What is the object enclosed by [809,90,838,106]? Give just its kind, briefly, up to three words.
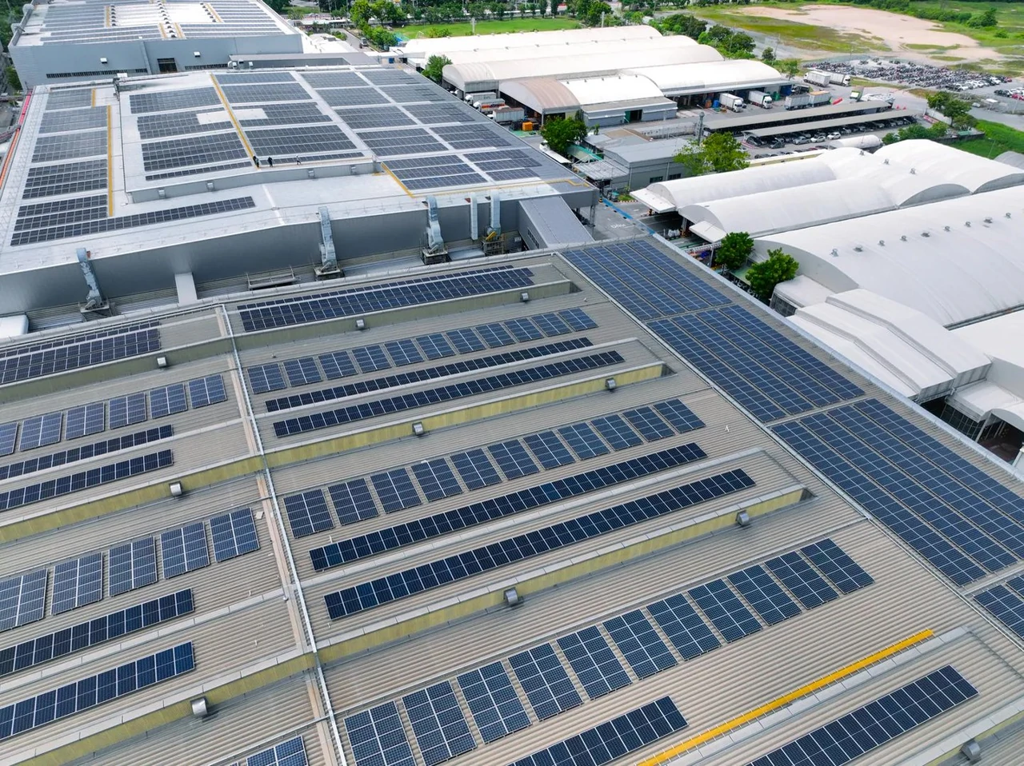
vehicle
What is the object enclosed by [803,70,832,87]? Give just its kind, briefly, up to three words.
vehicle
